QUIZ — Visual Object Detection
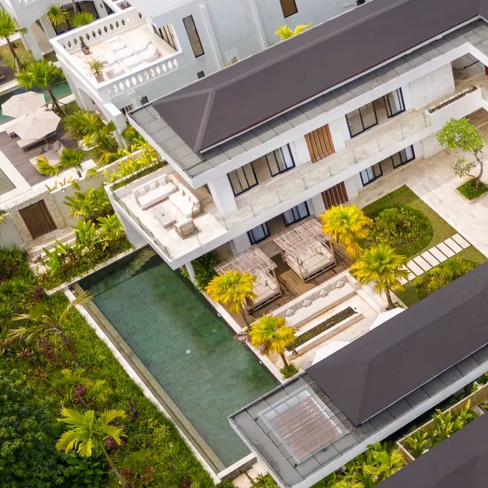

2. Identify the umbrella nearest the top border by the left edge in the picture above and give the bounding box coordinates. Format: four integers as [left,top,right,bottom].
[0,91,50,121]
